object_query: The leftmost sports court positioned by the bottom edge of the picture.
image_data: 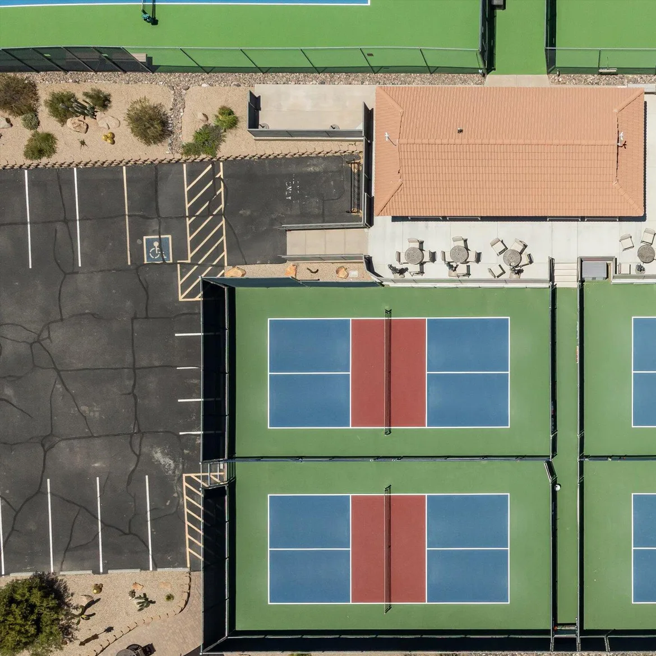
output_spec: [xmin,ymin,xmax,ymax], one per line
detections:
[227,461,553,635]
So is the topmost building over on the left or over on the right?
right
